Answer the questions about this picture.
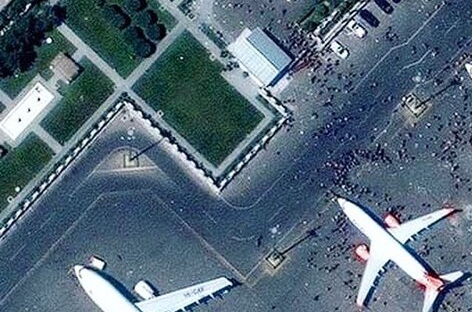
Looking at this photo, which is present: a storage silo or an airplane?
airplane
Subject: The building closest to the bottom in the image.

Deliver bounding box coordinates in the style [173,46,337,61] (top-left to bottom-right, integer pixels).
[0,80,55,140]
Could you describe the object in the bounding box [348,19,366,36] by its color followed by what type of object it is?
white car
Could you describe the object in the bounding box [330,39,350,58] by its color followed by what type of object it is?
white car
